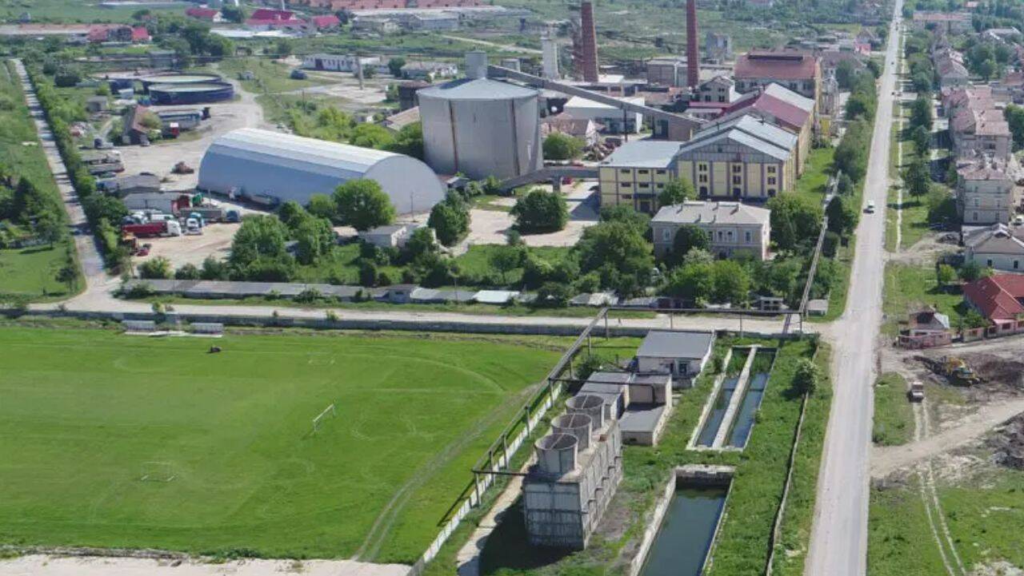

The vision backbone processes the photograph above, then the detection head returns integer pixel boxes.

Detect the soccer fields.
[0,327,570,568]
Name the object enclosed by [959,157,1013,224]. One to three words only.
house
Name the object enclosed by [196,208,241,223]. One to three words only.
vehicle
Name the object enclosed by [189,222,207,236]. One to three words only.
vehicle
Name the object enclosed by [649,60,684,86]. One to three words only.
shed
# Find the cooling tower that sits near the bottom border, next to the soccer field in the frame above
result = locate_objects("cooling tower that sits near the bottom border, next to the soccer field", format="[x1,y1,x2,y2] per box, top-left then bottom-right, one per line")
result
[520,397,623,556]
